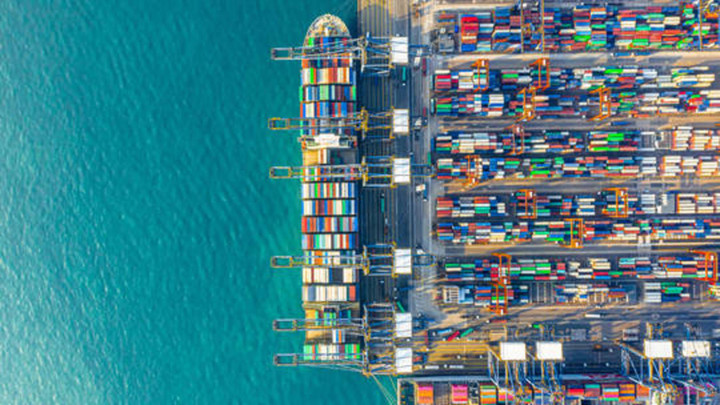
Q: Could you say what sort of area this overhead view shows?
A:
port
